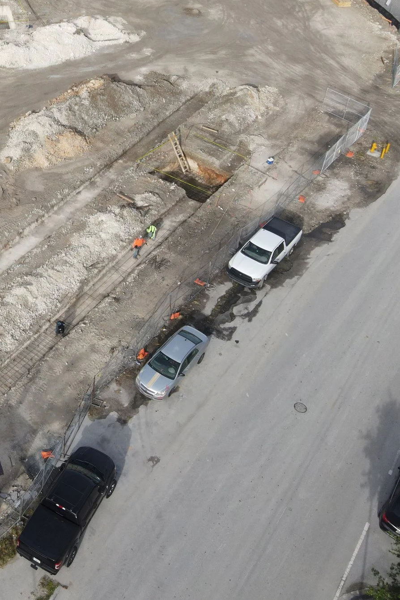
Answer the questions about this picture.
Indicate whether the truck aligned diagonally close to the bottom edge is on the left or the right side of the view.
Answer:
left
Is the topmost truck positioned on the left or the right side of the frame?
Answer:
right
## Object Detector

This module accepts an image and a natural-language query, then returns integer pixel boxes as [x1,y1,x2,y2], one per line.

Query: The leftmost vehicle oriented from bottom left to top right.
[22,445,127,576]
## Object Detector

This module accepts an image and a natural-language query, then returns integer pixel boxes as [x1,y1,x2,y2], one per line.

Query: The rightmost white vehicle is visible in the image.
[232,216,304,287]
